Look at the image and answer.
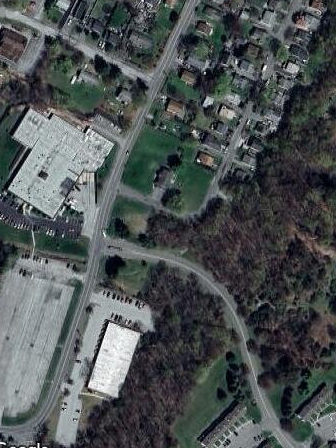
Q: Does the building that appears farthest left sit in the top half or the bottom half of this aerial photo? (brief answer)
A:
top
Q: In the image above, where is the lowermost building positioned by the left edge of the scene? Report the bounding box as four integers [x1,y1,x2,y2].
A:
[6,108,114,219]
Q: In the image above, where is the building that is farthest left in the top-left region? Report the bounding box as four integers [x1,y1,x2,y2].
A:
[0,27,30,61]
